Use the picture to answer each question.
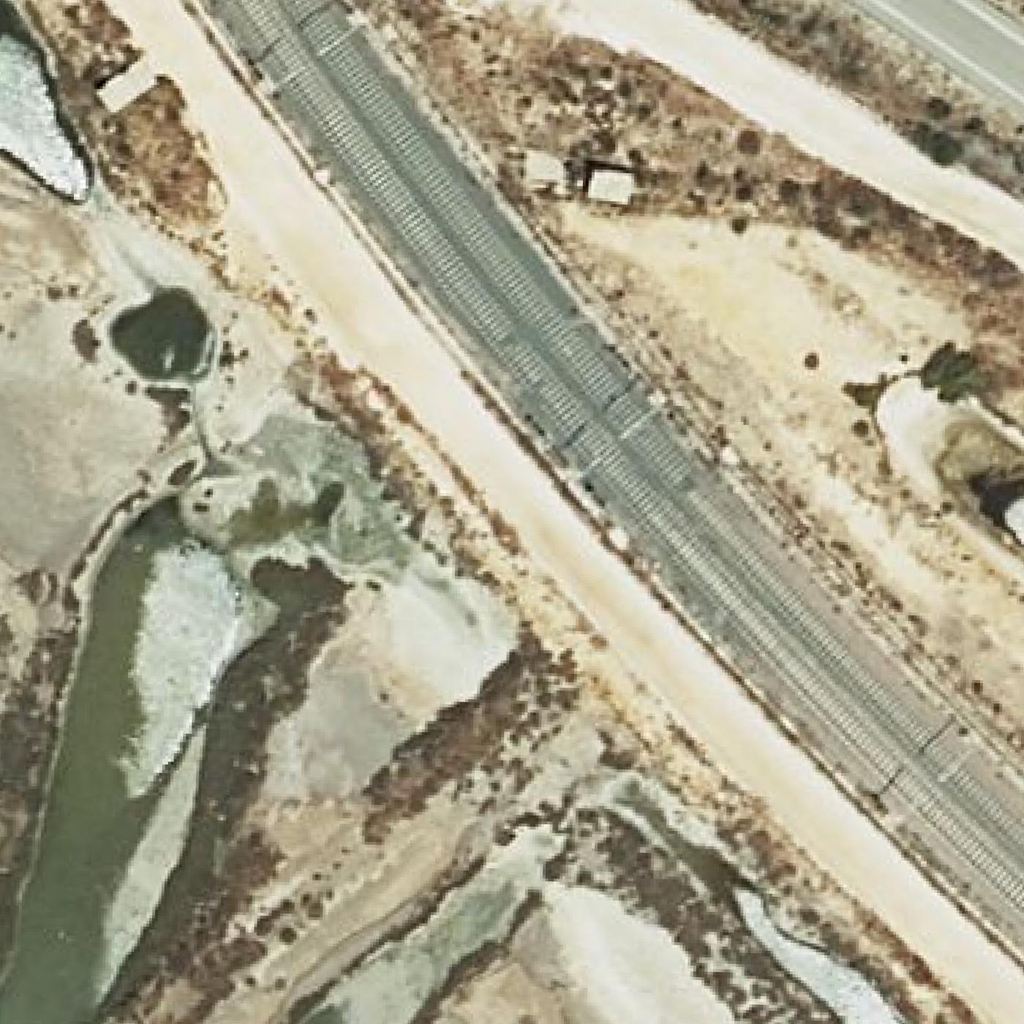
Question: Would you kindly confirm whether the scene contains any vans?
No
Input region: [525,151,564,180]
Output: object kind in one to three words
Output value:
shed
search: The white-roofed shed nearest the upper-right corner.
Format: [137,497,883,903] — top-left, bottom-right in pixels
[588,170,634,204]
